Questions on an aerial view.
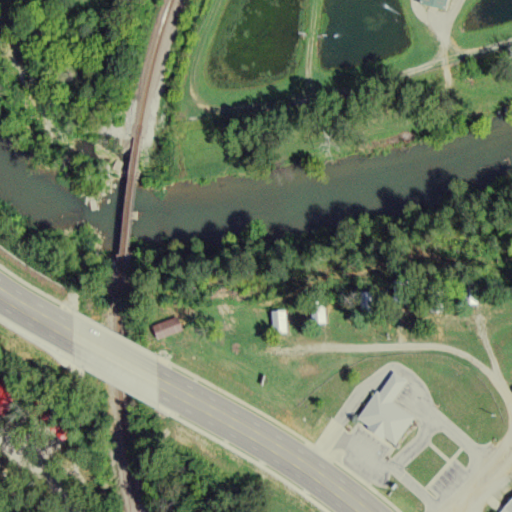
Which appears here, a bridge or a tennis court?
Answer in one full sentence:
This aerial view contains a bridge.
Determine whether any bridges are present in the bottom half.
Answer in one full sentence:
Yes, looking in the bottom half, one can make out a bridge.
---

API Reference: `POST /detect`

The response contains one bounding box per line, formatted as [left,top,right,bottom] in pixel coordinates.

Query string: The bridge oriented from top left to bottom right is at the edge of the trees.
[69,306,161,413]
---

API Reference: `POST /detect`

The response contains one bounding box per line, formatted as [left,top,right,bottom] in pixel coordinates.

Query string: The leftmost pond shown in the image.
[214,0,300,88]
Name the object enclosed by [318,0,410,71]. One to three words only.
pond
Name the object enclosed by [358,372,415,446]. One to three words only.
building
